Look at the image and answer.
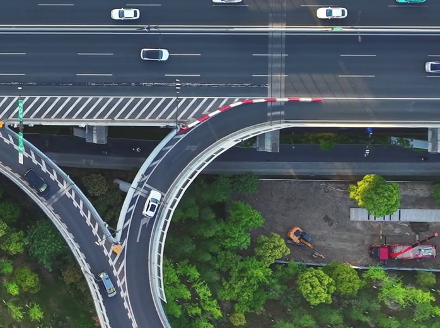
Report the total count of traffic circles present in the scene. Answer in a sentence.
The count of traffic circles is 0.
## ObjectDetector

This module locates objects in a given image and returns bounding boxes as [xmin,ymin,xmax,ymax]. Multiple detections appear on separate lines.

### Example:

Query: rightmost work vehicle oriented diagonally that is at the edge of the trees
[286,229,325,263]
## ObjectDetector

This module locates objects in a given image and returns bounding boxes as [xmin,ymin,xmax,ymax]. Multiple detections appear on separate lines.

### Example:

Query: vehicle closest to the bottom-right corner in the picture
[377,234,440,265]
